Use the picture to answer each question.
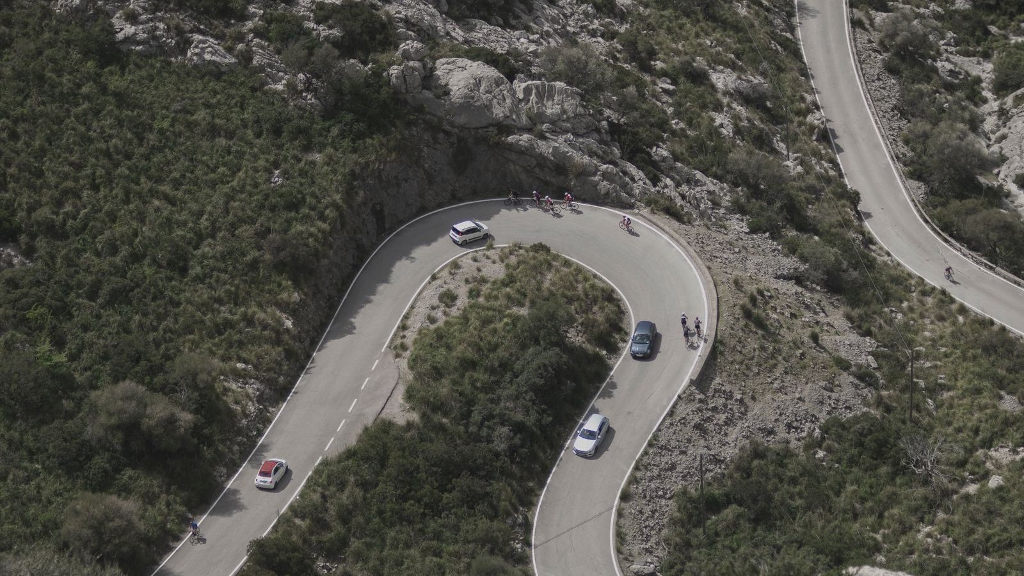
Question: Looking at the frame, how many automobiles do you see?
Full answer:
The number of automobiles here is 4.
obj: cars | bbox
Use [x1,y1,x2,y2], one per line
[258,457,291,489]
[573,415,610,458]
[631,320,657,359]
[451,220,489,244]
